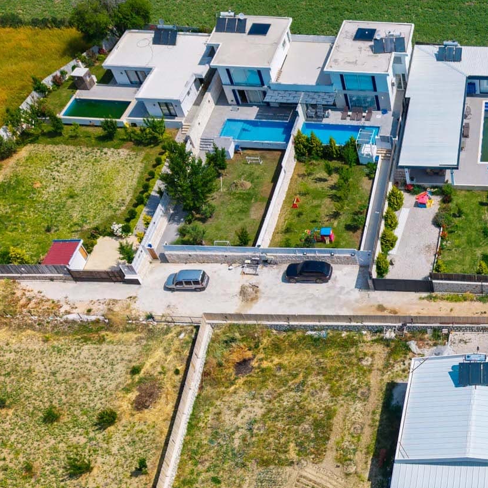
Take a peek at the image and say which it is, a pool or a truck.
pool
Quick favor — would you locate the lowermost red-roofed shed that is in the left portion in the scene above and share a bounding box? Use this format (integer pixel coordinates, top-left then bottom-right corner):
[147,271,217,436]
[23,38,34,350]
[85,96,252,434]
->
[43,237,89,263]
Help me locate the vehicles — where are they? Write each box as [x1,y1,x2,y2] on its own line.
[284,261,334,284]
[163,269,212,293]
